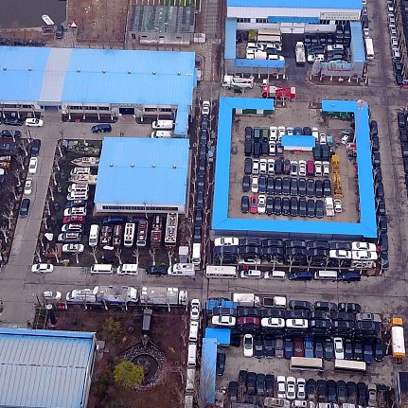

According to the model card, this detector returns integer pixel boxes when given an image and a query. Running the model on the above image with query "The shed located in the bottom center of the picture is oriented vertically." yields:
[201,337,216,407]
